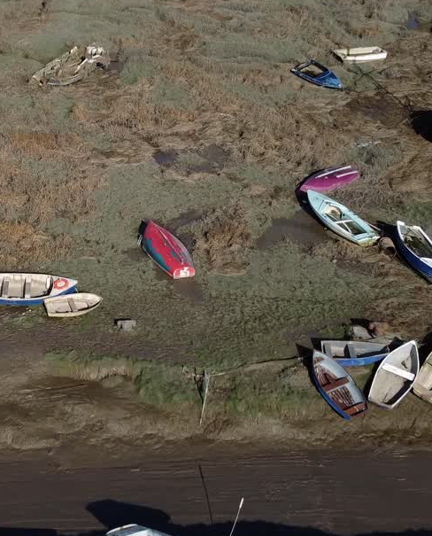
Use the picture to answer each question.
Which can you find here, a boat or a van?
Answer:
boat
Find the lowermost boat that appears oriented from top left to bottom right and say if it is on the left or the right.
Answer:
right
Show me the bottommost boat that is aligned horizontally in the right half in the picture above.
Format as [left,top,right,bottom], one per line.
[320,341,389,362]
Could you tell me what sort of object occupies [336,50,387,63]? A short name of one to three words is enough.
boat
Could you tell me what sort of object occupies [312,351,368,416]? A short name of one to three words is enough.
boat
